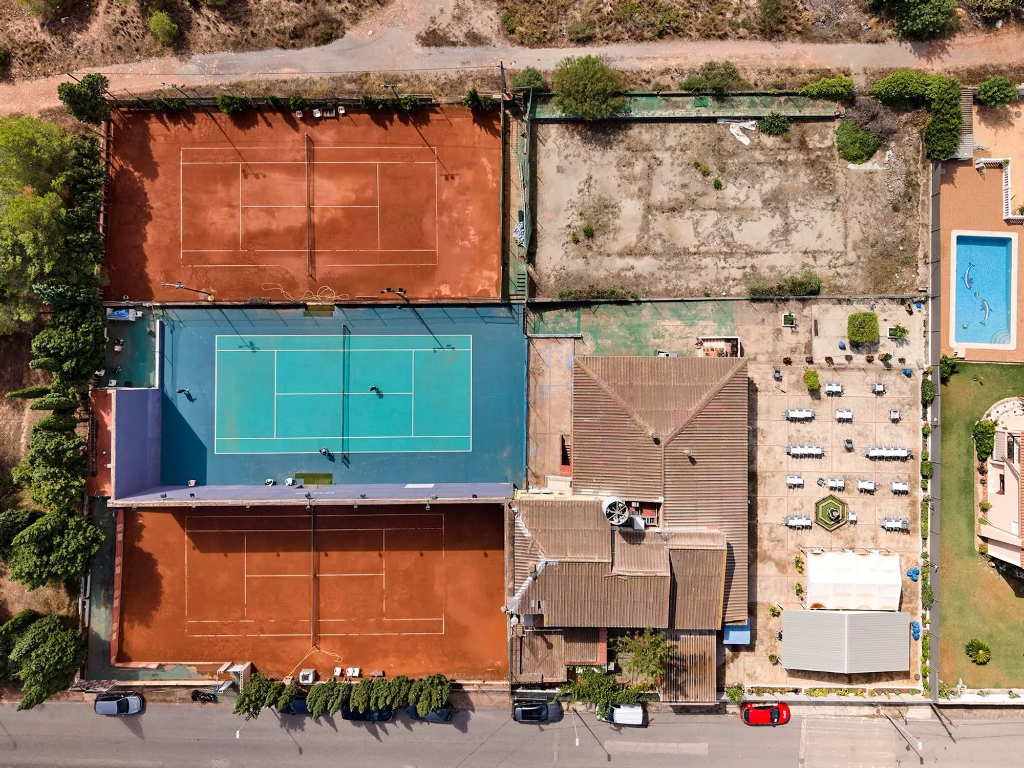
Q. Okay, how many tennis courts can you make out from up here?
3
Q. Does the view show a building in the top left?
No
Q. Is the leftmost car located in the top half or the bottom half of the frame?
bottom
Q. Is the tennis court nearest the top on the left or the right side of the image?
left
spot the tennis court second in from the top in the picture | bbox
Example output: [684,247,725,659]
[159,304,527,487]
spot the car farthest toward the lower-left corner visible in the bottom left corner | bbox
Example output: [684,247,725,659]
[94,689,146,716]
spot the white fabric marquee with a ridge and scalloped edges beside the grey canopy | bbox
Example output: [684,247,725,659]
[799,547,900,610]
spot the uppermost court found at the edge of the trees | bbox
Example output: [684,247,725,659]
[105,105,502,301]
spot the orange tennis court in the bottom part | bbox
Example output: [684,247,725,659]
[117,504,508,684]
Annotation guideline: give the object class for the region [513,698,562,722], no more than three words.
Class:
car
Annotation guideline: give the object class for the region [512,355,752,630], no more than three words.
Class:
building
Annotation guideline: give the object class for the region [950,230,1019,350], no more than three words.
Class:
swimming pool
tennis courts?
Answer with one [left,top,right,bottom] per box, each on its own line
[105,105,502,301]
[159,304,527,487]
[117,504,508,684]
